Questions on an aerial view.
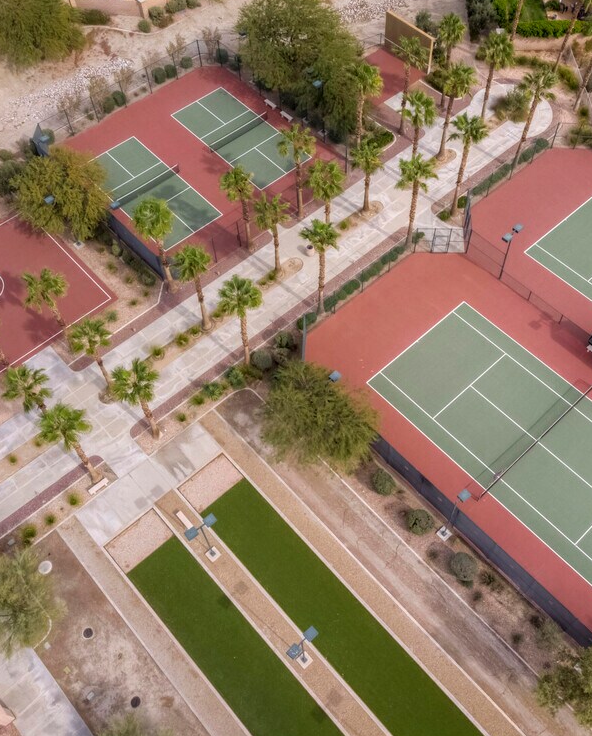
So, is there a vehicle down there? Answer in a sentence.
No, this view has no vehicle in it.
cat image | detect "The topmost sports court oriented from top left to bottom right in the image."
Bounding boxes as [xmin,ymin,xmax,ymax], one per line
[171,87,311,189]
